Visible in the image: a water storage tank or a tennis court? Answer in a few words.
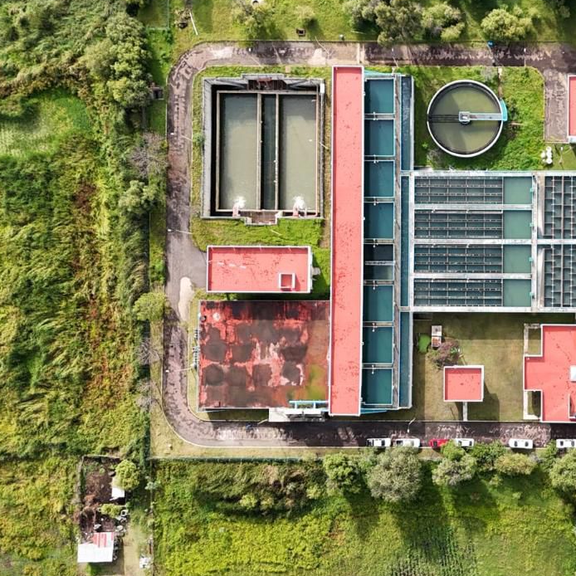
water storage tank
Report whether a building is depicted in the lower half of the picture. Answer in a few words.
Yes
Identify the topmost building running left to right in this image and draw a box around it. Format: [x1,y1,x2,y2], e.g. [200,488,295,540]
[208,245,321,293]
